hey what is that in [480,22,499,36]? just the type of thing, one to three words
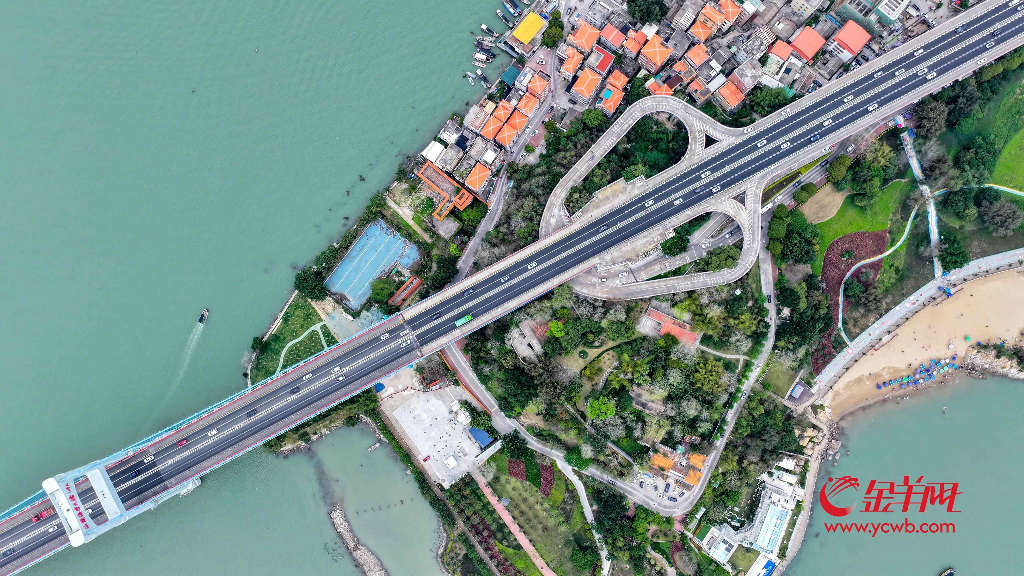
boat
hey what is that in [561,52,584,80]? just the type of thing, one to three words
house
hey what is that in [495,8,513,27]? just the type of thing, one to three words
boat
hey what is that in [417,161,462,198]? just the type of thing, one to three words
building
